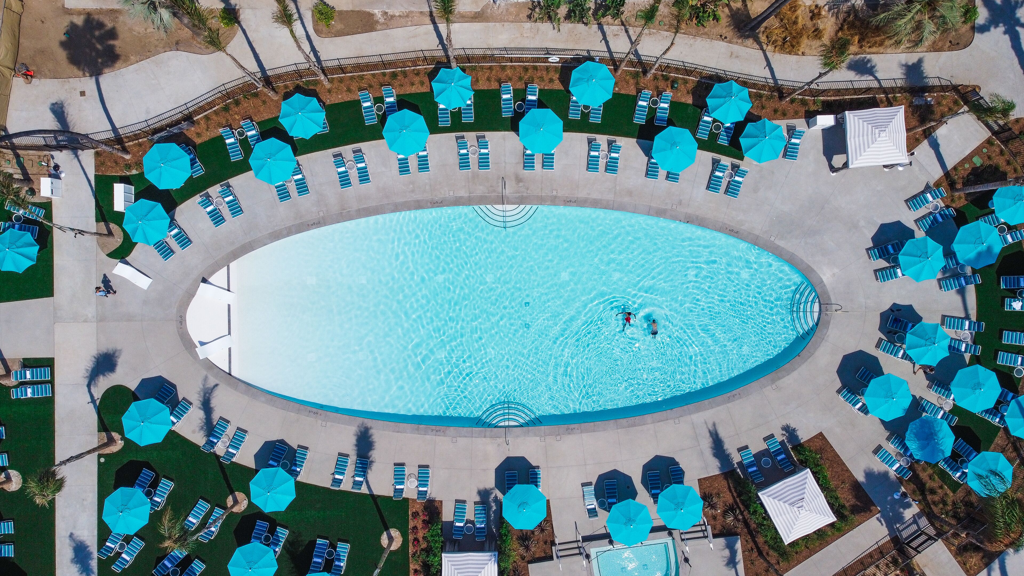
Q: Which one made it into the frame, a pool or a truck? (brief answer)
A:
pool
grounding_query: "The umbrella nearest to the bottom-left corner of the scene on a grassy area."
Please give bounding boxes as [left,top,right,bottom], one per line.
[102,487,151,535]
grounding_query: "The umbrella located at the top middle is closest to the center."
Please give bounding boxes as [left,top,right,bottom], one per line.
[519,109,563,153]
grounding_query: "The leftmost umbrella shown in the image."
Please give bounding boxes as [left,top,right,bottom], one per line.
[0,228,42,273]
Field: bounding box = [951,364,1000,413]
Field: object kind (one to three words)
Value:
umbrella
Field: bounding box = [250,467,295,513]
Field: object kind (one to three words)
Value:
umbrella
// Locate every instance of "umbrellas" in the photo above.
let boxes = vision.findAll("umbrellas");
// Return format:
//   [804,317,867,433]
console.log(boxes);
[519,109,563,153]
[864,373,912,421]
[250,467,295,513]
[740,118,786,163]
[964,452,1012,497]
[123,398,172,446]
[249,137,297,185]
[652,126,699,173]
[1002,396,1024,440]
[906,415,954,463]
[102,487,151,535]
[898,236,945,282]
[953,220,1002,269]
[951,364,1000,413]
[502,484,547,530]
[707,80,751,124]
[431,67,474,110]
[905,322,951,366]
[228,540,278,576]
[382,109,430,156]
[0,228,42,273]
[569,61,615,107]
[123,199,171,246]
[988,185,1024,226]
[606,499,653,546]
[279,93,325,140]
[657,484,703,530]
[143,142,191,189]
